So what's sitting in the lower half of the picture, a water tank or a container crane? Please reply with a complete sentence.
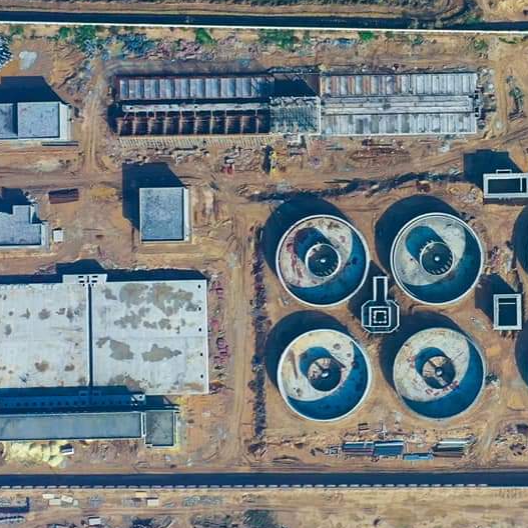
You can see a water tank in the lower half of the picture.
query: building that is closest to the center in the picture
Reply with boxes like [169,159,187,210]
[140,187,192,244]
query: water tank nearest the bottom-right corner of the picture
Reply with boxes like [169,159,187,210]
[393,325,485,419]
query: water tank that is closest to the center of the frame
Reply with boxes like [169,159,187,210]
[277,214,370,307]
